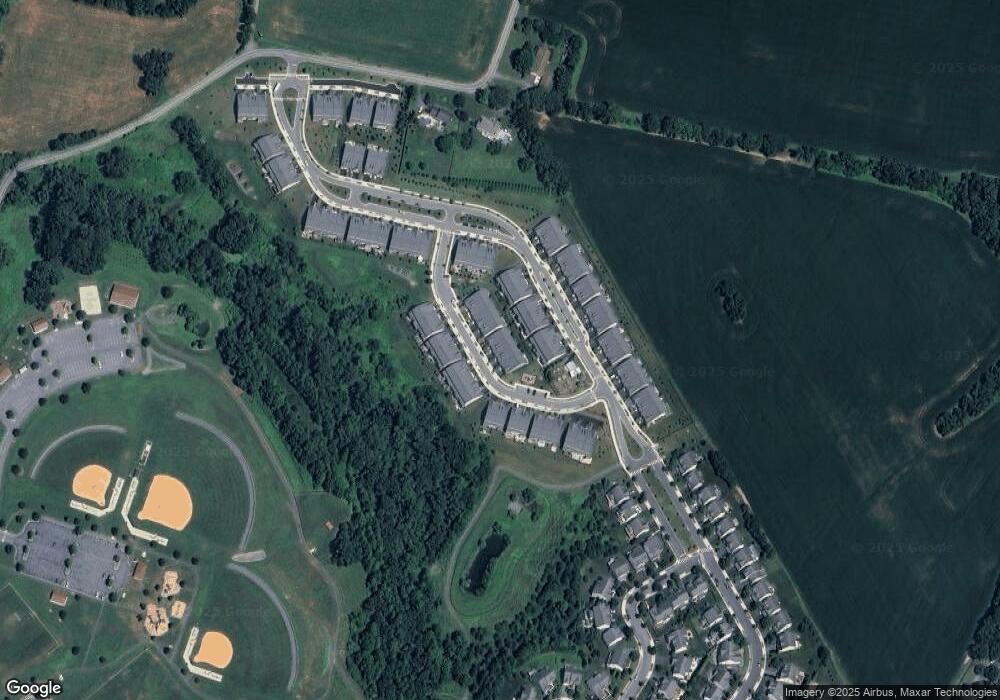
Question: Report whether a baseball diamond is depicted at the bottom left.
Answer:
Yes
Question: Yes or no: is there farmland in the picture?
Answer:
Yes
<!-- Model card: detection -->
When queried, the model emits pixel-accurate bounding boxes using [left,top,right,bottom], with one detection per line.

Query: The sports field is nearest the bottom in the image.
[82,648,190,700]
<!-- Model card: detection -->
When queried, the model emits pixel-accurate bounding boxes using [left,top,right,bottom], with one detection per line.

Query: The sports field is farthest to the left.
[0,584,58,665]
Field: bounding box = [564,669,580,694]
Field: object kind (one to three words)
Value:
house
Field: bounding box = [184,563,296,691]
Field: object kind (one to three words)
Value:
baseball field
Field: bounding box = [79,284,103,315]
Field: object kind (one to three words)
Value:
sports court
